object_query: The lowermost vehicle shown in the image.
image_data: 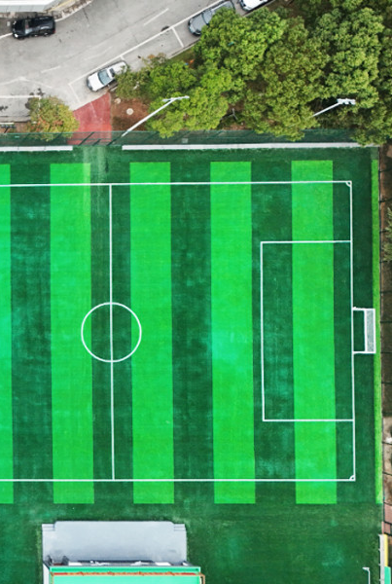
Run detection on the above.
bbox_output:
[83,58,131,94]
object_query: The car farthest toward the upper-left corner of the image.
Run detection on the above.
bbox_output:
[9,15,57,40]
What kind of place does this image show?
sports ground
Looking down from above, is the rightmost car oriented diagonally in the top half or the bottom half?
top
